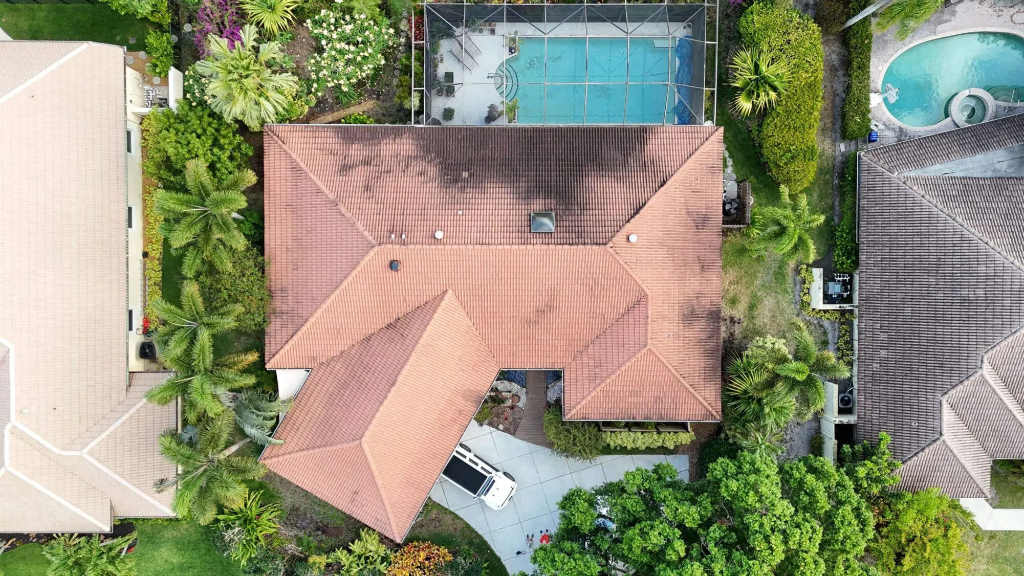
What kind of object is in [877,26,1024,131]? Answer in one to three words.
swimming pool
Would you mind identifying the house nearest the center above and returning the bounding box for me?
[258,123,725,545]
